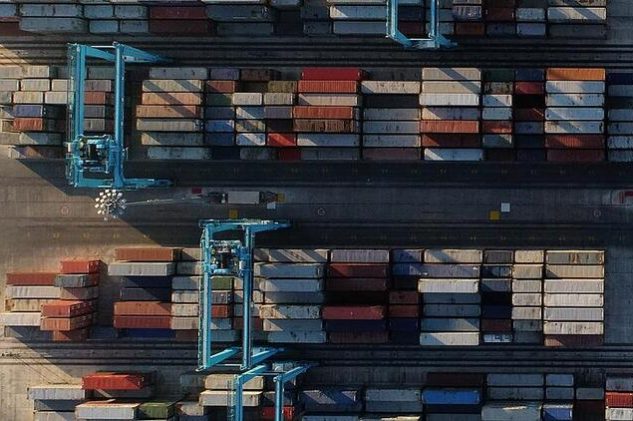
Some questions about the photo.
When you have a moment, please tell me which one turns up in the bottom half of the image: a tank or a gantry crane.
gantry crane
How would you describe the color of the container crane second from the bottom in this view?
blue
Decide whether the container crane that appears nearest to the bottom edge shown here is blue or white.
blue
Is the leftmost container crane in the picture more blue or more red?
blue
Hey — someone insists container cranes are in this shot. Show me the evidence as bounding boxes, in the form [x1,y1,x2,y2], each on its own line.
[227,357,320,421]
[66,40,177,185]
[193,219,291,368]
[384,0,462,50]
